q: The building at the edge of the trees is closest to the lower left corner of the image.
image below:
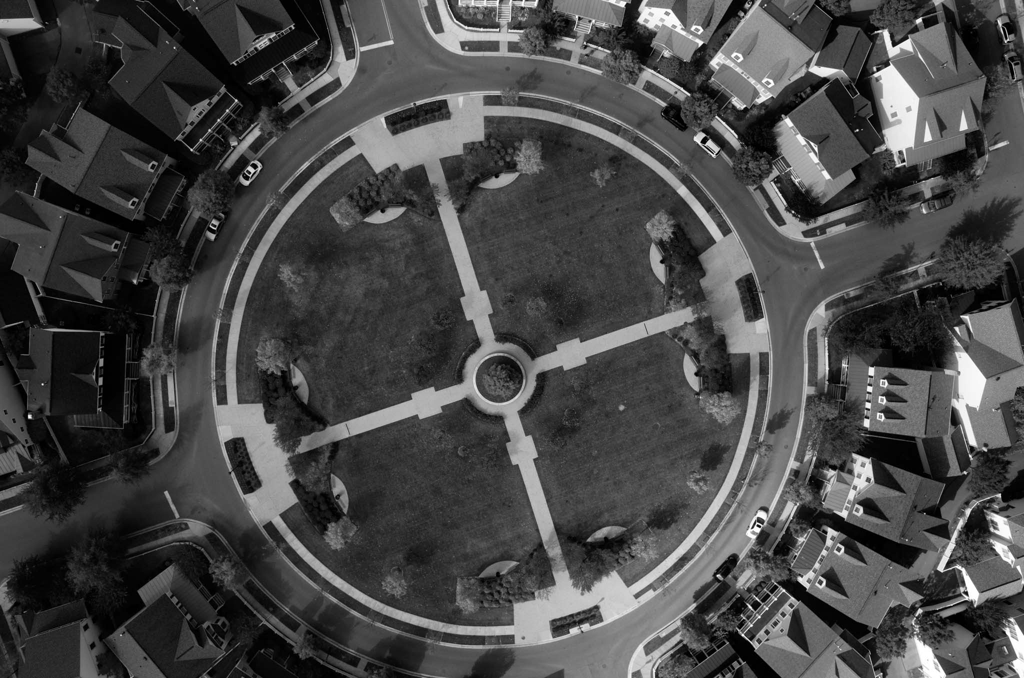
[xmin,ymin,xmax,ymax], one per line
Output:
[25,595,115,678]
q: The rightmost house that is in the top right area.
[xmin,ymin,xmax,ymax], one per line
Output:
[870,7,1001,174]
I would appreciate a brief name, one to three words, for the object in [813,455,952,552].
house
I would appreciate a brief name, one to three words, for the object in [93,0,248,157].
house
